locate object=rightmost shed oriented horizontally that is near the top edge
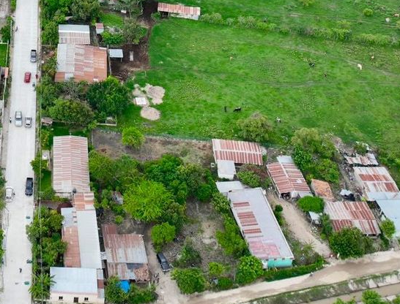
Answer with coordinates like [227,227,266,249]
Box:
[158,2,200,21]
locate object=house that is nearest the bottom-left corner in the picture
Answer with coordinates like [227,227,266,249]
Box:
[50,265,97,303]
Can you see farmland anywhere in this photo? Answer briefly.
Yes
